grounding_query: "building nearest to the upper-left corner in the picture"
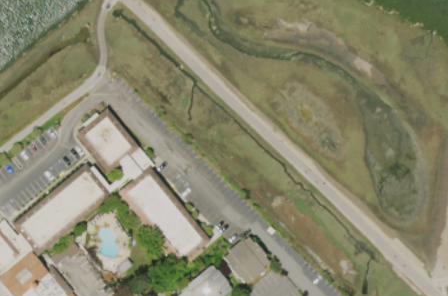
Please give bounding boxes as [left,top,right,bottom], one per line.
[78,108,140,174]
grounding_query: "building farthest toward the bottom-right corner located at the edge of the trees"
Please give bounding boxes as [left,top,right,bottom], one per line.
[224,238,270,284]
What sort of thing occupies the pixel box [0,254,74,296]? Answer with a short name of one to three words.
building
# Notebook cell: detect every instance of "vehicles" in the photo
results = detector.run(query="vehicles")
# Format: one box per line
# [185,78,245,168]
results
[75,146,84,156]
[220,224,230,232]
[20,152,29,161]
[215,219,224,228]
[158,160,167,169]
[228,235,238,244]
[312,276,322,286]
[62,156,72,166]
[4,166,14,174]
[180,188,192,198]
[44,171,54,182]
[38,136,48,146]
[48,130,56,139]
[70,150,79,160]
